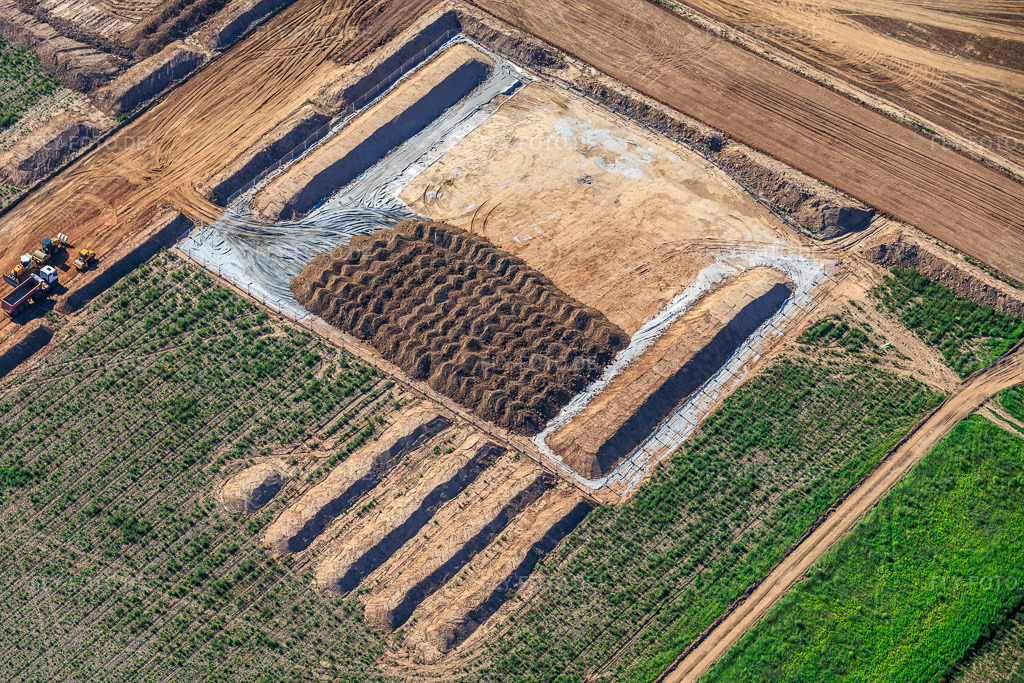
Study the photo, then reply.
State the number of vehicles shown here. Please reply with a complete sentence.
Looking from above, you can make out 4 vehicles.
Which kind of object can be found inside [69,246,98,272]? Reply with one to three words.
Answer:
work vehicle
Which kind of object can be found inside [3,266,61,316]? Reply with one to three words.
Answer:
truck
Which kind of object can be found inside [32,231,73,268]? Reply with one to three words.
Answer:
work vehicle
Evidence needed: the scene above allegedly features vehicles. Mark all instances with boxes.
[3,266,61,316]
[2,252,42,288]
[32,231,73,268]
[69,246,98,272]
